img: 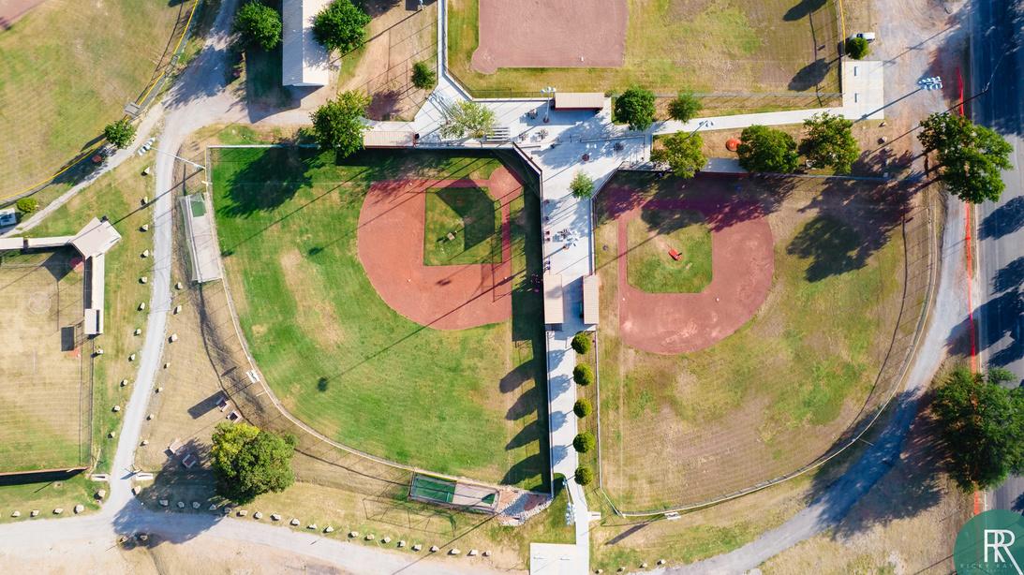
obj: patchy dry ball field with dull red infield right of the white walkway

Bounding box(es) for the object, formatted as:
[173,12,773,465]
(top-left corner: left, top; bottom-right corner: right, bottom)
[596,172,926,511]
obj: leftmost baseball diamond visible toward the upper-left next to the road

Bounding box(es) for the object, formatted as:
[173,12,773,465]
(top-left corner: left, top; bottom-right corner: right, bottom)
[0,0,203,197]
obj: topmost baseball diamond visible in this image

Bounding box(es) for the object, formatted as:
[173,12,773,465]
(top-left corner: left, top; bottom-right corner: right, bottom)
[449,0,840,96]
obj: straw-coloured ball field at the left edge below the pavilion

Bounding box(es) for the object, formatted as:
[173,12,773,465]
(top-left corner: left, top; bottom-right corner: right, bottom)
[0,252,91,471]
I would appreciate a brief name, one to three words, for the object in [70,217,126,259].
building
